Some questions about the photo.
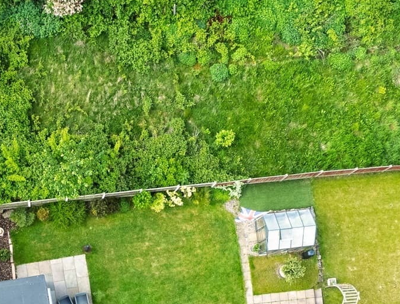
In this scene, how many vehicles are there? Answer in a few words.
0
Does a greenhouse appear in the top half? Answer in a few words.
No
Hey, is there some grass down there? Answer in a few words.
Yes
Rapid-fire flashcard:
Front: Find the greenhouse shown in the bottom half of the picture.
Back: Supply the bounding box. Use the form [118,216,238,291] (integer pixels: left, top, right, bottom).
[257,209,316,255]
